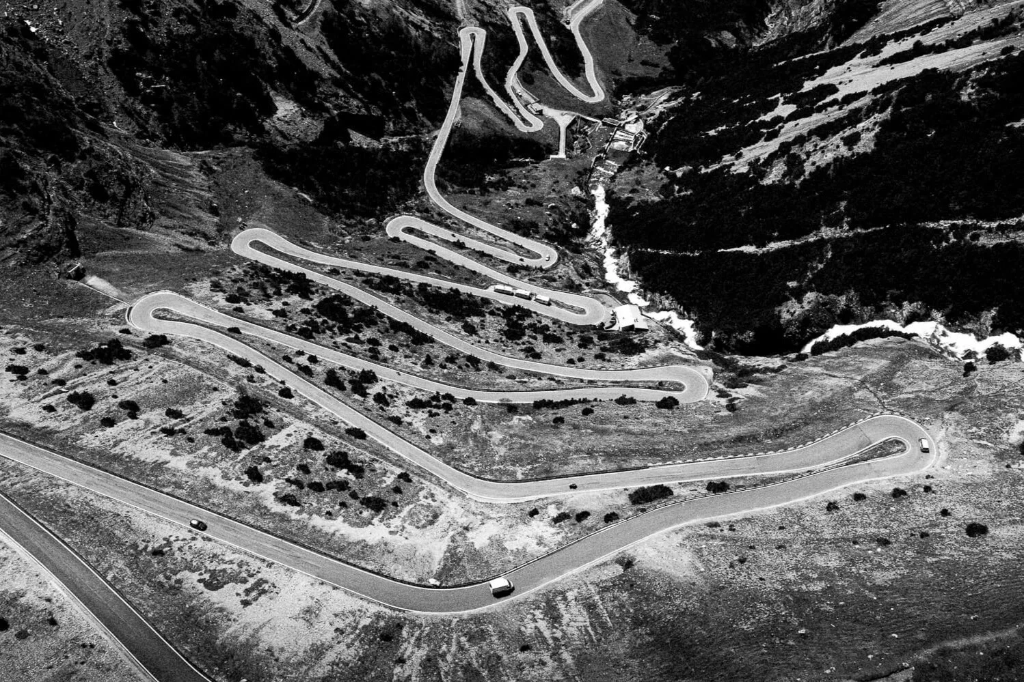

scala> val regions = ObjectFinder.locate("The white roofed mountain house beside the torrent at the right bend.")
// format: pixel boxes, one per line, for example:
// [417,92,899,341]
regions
[612,302,650,333]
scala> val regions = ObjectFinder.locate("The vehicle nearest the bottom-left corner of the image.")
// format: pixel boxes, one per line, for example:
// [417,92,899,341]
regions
[188,518,208,531]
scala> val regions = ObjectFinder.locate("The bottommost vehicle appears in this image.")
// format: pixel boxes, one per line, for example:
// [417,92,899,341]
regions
[489,580,514,594]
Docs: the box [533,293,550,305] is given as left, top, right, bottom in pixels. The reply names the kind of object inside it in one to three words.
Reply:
vehicle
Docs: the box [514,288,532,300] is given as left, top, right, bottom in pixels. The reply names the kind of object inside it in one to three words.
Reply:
vehicle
